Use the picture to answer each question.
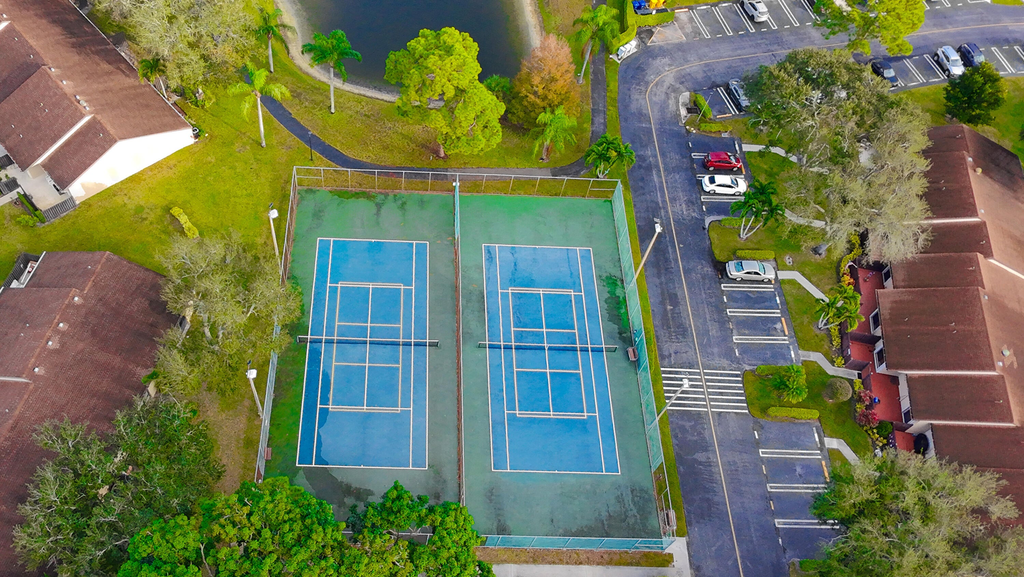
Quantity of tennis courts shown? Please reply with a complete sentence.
My tally gives 2 tennis courts in this view.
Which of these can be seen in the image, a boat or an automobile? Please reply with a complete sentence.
The one in the frame is an automobile.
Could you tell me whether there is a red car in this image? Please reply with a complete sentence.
Yes, the frame does contain a red car.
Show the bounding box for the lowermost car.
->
[728,259,777,281]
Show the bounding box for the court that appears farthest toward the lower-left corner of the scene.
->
[265,190,460,543]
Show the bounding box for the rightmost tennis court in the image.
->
[460,198,660,541]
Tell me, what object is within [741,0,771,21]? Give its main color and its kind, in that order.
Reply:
white car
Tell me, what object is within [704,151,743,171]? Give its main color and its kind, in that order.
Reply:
red car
